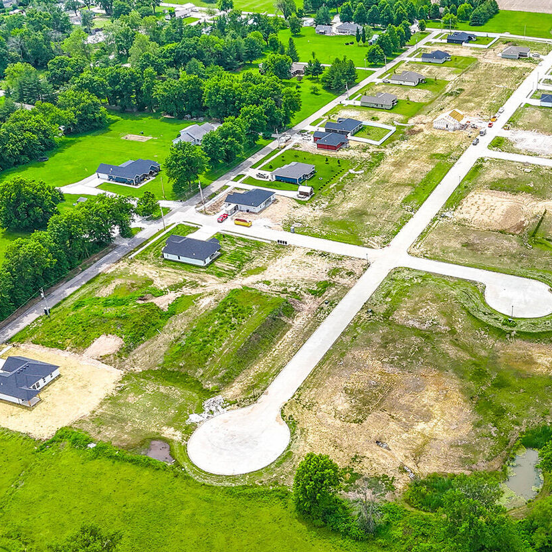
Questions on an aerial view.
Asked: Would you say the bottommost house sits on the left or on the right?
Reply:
left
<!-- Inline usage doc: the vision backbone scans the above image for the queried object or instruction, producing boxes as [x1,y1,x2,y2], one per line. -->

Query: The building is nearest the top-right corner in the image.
[502,46,534,59]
